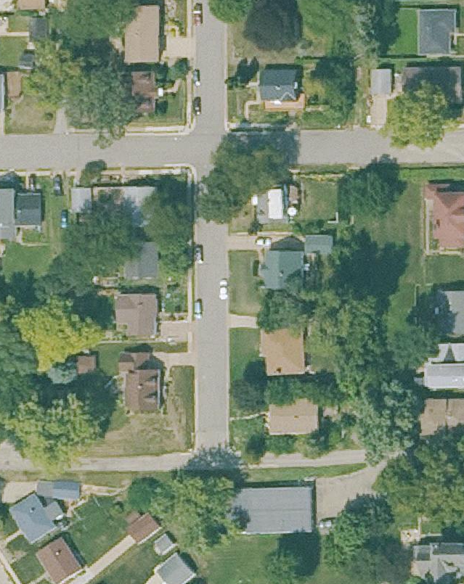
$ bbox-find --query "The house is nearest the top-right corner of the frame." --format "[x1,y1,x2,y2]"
[419,9,456,54]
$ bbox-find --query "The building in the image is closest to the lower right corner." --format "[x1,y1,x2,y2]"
[413,543,464,578]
